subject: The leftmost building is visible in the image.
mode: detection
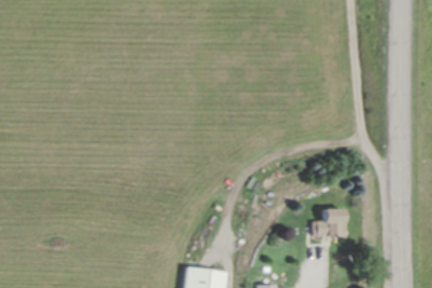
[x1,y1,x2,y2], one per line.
[185,268,230,288]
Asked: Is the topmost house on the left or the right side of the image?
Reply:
right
